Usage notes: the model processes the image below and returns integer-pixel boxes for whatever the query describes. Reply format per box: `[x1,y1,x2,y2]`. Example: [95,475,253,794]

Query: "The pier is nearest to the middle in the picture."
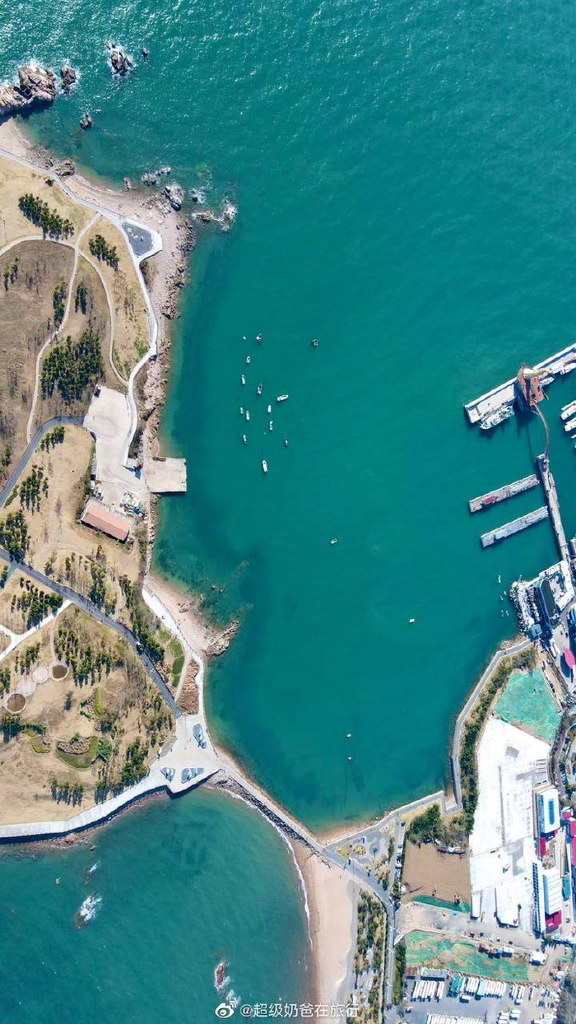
[144,457,187,494]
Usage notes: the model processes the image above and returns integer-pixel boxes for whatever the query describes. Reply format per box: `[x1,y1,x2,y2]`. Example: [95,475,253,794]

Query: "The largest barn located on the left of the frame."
[81,504,130,540]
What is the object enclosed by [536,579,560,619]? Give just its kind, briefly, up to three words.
building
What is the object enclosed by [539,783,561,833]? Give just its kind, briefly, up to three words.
building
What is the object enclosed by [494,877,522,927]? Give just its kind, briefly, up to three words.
shed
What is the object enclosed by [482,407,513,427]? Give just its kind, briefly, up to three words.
boat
